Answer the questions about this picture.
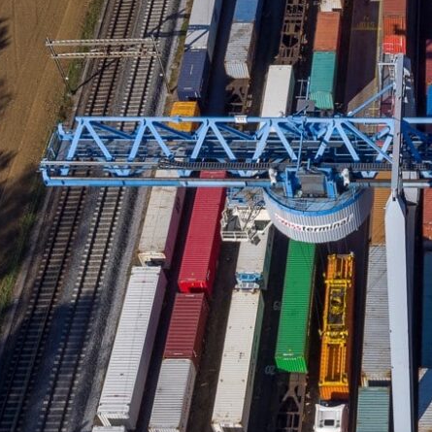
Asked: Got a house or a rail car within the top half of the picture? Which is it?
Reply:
rail car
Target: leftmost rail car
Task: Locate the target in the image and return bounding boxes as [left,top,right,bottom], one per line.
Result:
[104,279,169,432]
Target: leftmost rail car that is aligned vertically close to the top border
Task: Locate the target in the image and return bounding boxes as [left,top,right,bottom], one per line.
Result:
[196,0,229,116]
